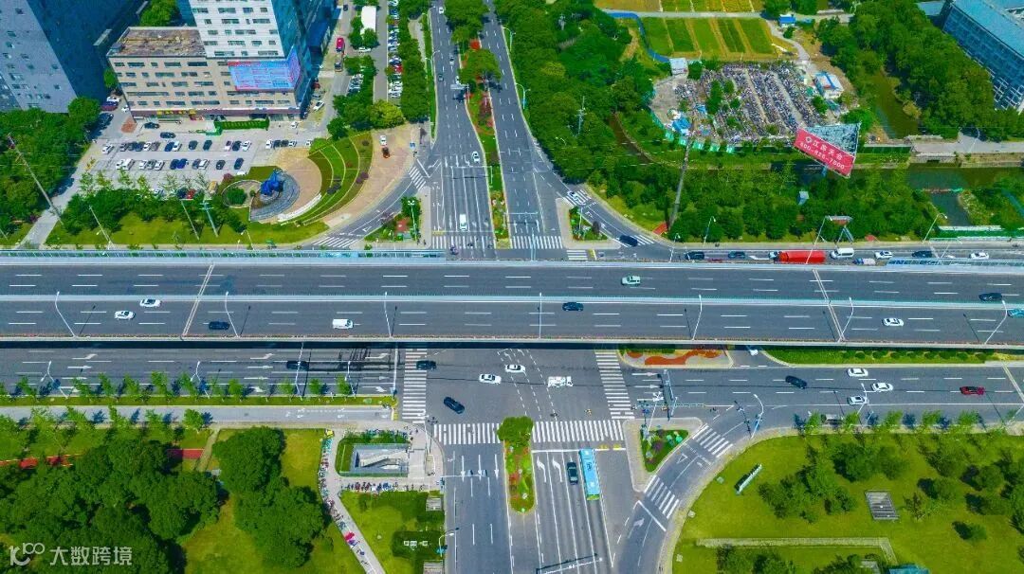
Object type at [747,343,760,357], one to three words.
vehicle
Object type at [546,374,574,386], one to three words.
vehicle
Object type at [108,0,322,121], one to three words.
building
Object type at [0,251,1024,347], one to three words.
overpass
